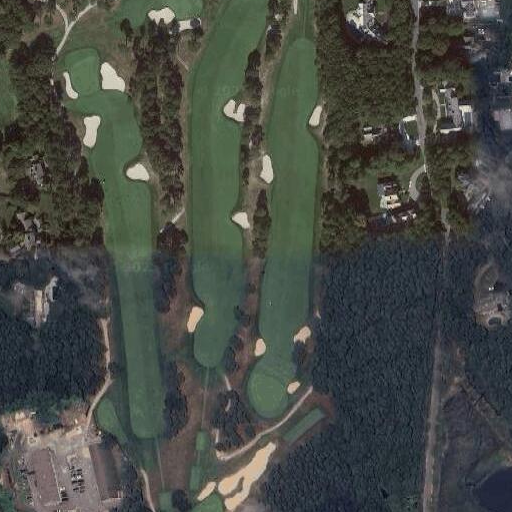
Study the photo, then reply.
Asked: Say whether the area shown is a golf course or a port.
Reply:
golf course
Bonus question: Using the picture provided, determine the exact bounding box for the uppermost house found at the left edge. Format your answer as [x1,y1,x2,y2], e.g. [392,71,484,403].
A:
[25,158,48,185]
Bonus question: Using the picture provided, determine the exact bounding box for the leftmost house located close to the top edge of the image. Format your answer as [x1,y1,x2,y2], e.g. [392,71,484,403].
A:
[358,0,384,39]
